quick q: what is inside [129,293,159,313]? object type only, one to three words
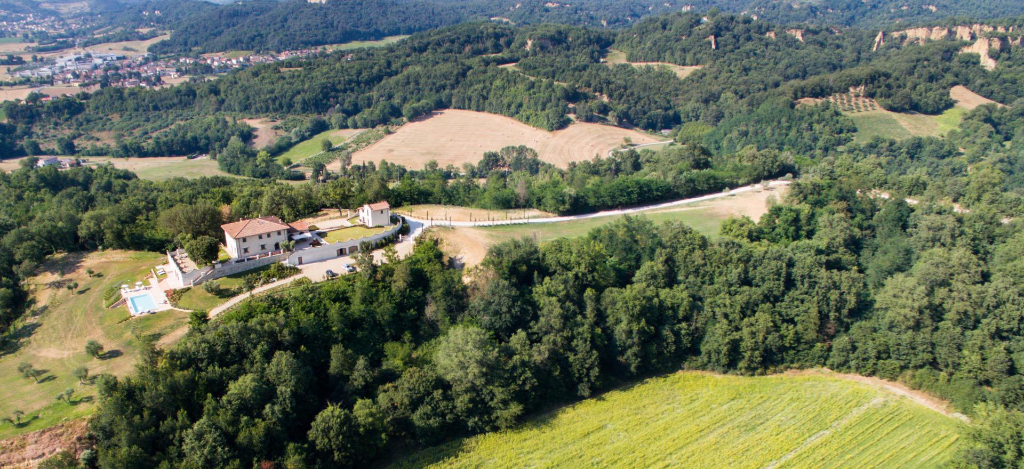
swimming pool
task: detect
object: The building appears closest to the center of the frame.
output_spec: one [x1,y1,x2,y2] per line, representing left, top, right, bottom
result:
[360,203,388,227]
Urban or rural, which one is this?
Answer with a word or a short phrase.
rural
